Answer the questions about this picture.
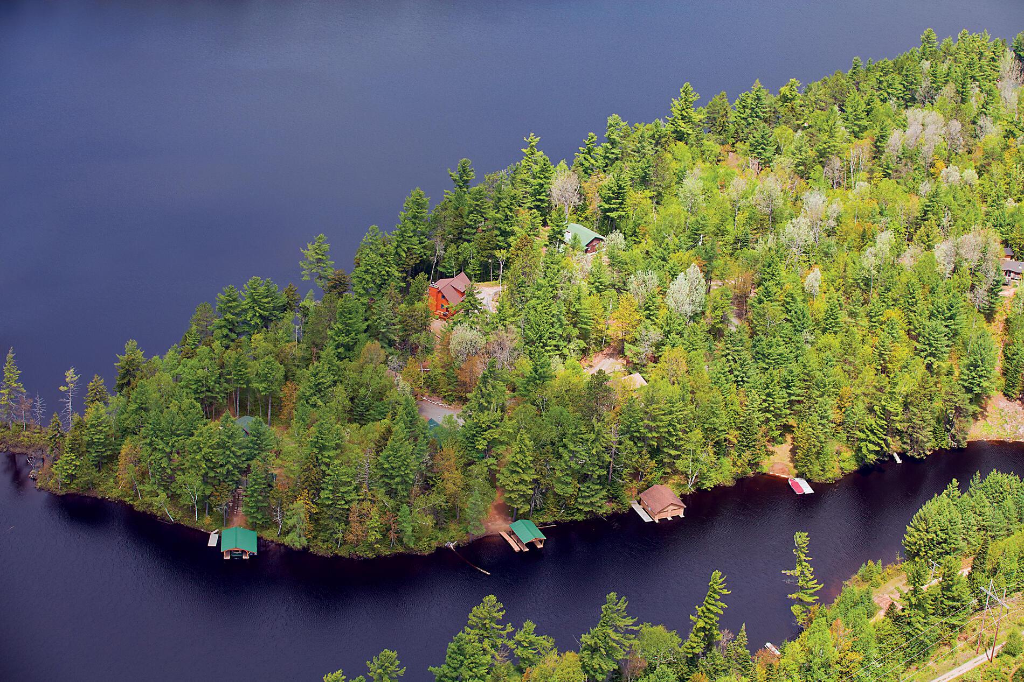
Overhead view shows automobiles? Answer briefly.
No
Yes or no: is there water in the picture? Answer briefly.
Yes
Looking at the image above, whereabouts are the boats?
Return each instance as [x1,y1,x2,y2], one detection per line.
[233,552,243,561]
[788,478,808,496]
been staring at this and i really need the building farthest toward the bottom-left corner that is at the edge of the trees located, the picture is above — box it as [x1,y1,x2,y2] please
[221,525,261,561]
